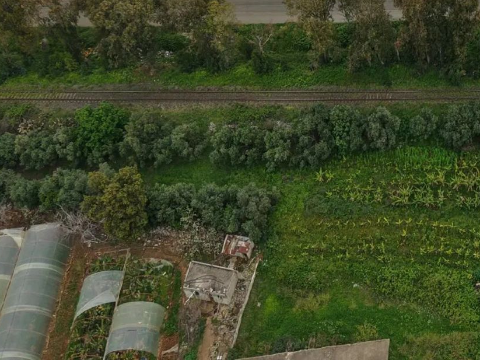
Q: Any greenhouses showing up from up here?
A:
Yes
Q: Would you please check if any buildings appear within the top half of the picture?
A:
No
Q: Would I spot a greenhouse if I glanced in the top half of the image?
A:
No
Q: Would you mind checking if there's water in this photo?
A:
No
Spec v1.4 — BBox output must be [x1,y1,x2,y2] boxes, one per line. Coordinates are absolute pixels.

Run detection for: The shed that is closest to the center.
[222,235,256,263]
